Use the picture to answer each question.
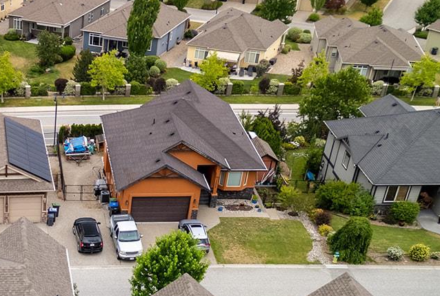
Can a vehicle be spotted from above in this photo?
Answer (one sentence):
Yes, the photo shows a vehicle.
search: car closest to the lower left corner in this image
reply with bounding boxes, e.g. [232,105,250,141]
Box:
[71,217,107,251]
